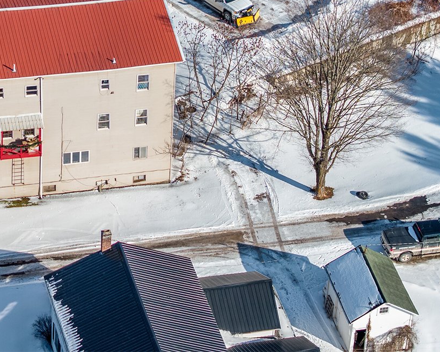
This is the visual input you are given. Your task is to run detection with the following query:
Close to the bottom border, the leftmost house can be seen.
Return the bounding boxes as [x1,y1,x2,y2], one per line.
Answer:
[43,233,229,352]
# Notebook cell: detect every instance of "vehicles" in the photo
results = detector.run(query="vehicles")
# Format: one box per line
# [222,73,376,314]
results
[192,0,251,21]
[380,220,440,263]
